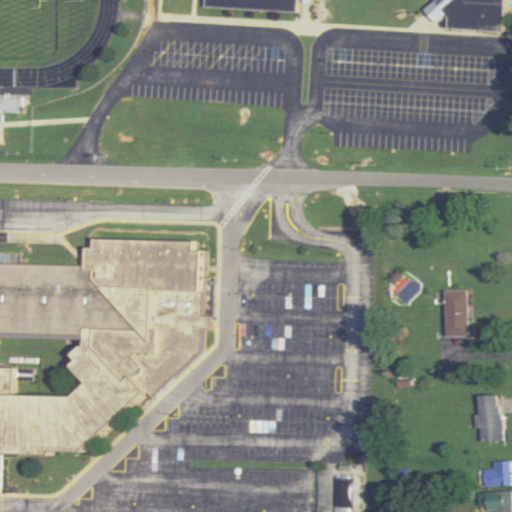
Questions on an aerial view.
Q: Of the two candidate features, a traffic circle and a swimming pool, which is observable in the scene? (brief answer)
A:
swimming pool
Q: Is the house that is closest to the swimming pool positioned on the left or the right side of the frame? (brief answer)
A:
right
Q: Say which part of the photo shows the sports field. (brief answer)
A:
top left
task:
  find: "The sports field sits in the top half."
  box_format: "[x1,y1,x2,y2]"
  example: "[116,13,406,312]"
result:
[0,0,100,67]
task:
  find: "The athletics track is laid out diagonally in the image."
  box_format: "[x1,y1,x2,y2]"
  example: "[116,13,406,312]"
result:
[0,0,118,95]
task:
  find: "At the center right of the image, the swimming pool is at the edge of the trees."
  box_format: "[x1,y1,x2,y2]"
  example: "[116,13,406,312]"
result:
[390,272,422,306]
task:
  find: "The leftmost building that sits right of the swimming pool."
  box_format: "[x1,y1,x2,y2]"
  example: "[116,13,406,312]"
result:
[438,290,470,338]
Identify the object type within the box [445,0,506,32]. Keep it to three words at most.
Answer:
building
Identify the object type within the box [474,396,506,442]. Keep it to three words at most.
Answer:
house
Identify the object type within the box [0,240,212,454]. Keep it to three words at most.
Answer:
building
